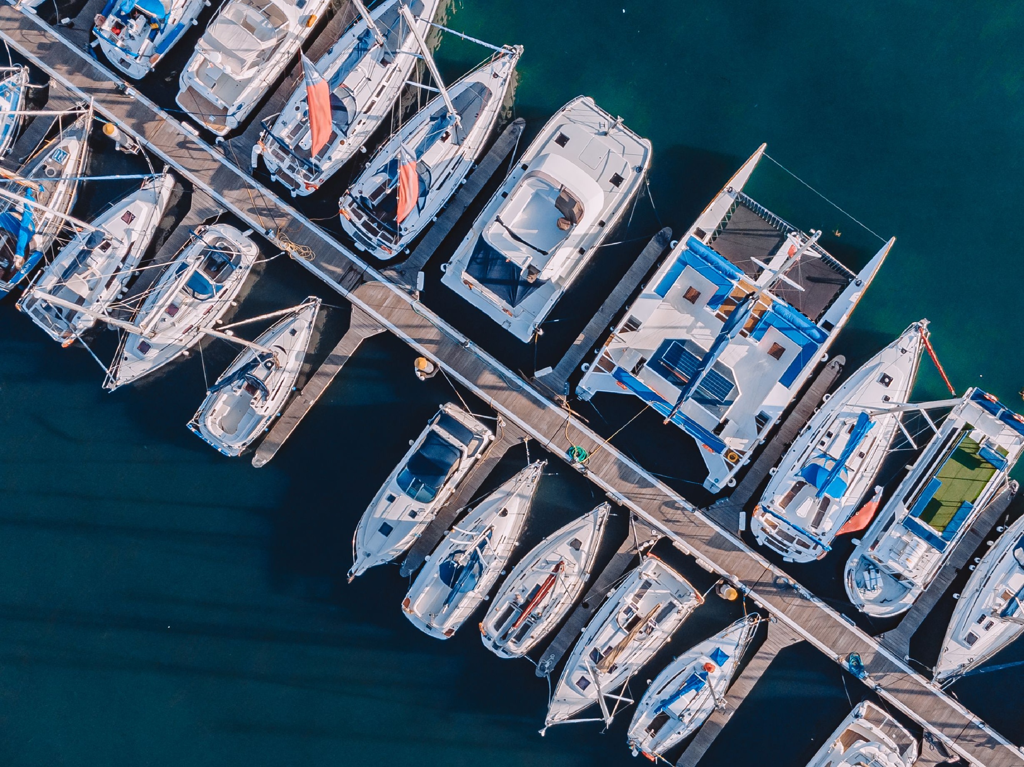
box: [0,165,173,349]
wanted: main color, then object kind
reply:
white boat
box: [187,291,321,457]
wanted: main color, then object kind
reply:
white boat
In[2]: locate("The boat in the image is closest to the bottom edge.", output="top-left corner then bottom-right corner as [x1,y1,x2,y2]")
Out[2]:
[798,699,918,767]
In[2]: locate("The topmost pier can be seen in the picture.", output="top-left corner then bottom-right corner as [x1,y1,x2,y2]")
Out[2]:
[48,0,105,55]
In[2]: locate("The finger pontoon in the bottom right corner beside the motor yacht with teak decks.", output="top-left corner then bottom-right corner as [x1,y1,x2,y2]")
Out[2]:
[912,728,962,767]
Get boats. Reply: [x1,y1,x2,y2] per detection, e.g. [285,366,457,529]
[0,60,29,161]
[252,0,456,199]
[930,506,1024,688]
[751,314,976,563]
[0,165,173,349]
[347,403,493,582]
[402,458,550,641]
[339,0,524,263]
[846,387,1024,618]
[539,551,704,737]
[92,0,213,83]
[628,614,766,762]
[575,144,896,494]
[798,699,918,767]
[442,94,652,343]
[475,500,612,659]
[187,291,321,457]
[26,222,263,393]
[176,0,341,138]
